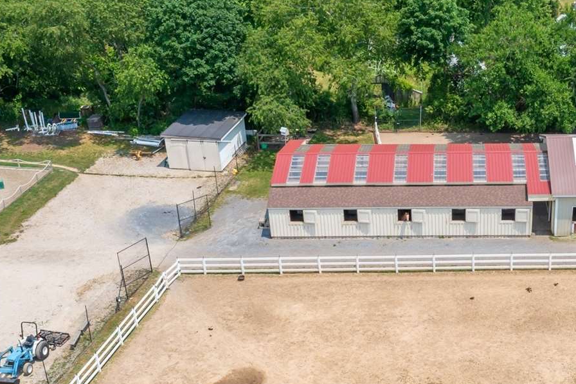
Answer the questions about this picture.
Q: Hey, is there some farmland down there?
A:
Yes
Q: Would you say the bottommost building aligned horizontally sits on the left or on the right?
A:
right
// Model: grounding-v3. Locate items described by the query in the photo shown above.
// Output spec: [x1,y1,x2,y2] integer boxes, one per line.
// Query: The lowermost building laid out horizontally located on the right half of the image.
[265,142,552,237]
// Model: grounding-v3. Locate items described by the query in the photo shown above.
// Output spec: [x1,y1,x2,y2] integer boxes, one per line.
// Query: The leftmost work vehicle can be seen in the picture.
[0,322,44,384]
